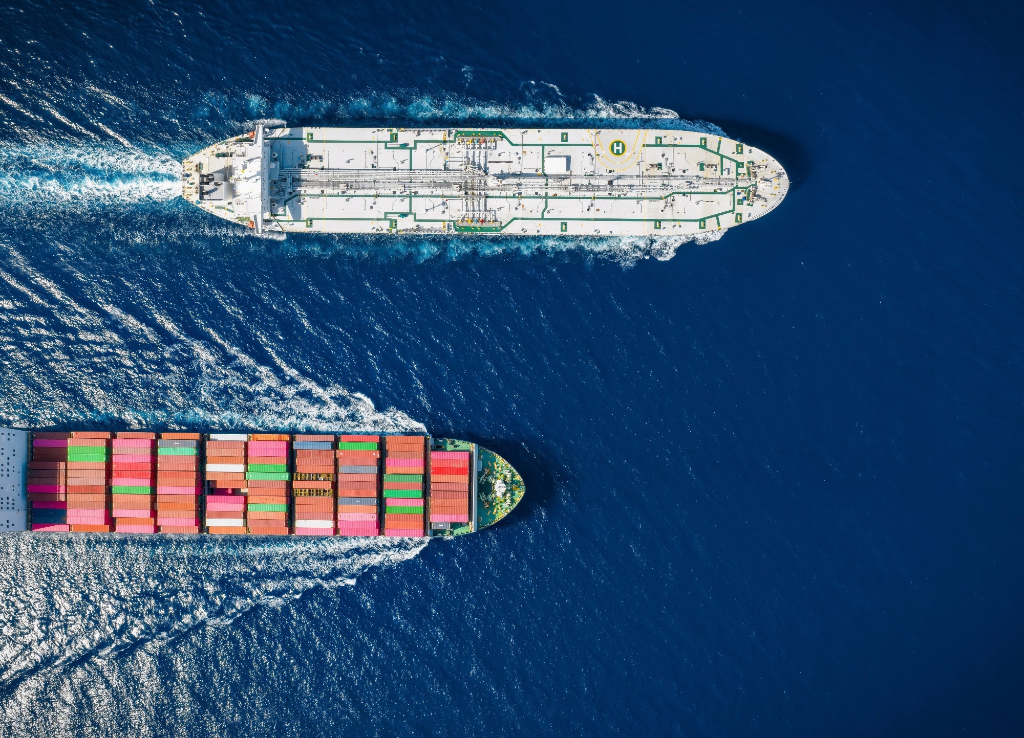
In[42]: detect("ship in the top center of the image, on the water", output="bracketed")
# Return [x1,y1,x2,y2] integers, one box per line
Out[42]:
[181,123,791,239]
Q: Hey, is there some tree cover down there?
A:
No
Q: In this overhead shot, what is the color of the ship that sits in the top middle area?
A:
white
